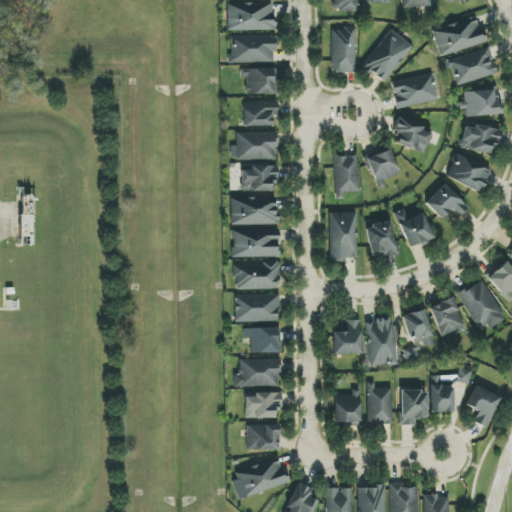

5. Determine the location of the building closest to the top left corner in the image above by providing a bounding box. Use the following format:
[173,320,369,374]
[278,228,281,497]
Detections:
[15,187,38,246]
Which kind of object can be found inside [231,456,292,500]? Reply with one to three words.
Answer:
house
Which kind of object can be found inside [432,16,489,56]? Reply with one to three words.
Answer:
house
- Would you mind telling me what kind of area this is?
residential area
